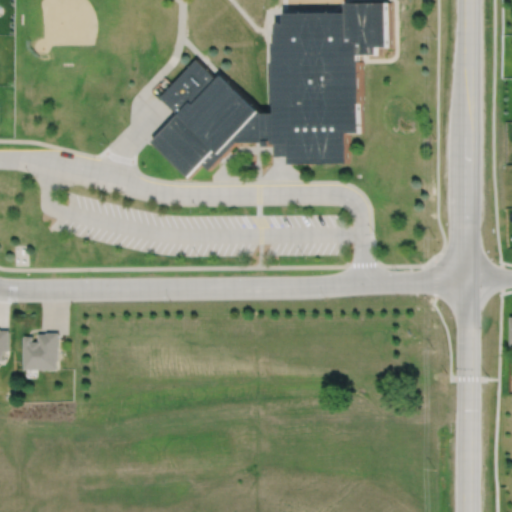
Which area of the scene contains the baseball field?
top left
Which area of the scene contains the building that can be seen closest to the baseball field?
top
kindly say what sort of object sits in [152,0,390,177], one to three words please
building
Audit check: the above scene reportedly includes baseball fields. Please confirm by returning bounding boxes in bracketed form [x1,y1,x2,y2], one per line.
[25,0,98,59]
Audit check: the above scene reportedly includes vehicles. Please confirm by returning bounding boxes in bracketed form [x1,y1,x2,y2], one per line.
[62,152,74,158]
[302,216,310,228]
[318,215,326,226]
